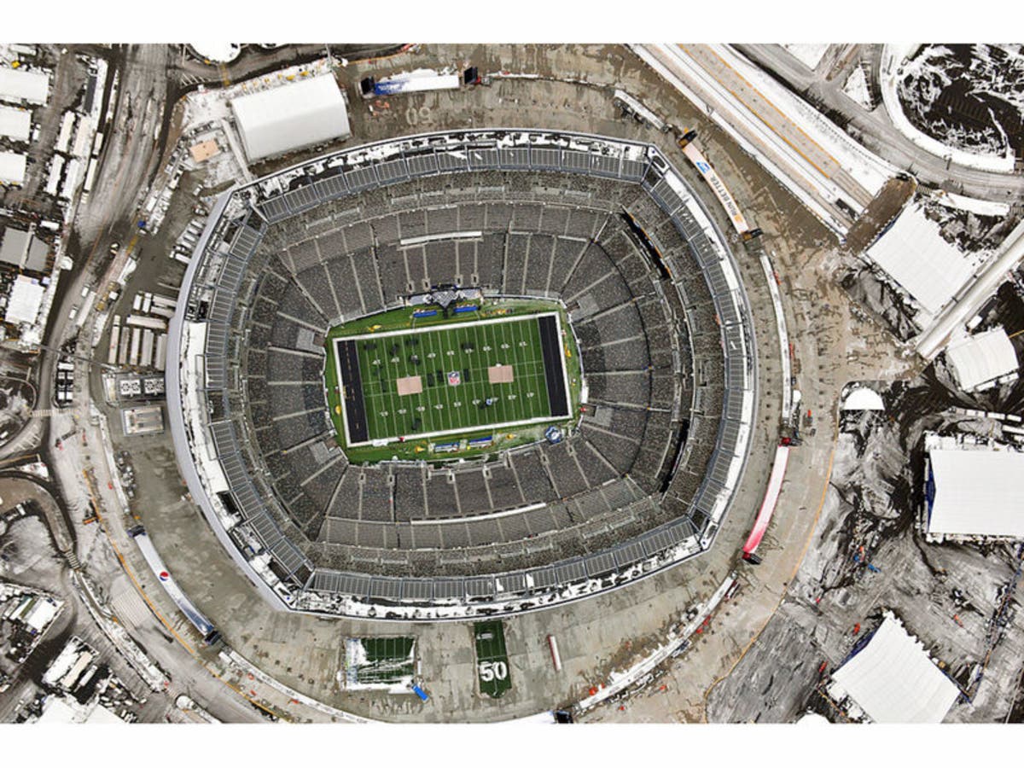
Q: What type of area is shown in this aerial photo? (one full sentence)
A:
This image shows a sports ground.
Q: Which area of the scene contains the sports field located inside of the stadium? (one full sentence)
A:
The sports field located inside of the stadium is in the center part of the image.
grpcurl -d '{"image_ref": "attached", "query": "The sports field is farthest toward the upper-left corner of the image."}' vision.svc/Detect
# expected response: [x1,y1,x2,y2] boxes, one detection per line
[324,291,583,465]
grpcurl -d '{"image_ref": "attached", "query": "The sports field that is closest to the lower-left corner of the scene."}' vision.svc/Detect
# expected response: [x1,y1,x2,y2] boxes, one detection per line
[345,638,421,693]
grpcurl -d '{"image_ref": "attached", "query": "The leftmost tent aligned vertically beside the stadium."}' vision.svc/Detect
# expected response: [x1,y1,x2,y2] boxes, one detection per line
[759,257,790,418]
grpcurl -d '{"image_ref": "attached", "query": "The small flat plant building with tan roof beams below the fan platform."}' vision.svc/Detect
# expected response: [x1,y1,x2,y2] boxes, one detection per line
[121,407,163,436]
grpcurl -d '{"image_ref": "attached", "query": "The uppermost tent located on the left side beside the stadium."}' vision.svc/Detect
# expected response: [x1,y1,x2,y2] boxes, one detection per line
[232,72,351,160]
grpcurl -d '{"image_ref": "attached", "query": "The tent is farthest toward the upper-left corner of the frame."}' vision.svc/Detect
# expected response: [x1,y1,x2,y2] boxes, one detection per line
[0,69,49,104]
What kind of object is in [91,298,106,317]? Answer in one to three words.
work vehicle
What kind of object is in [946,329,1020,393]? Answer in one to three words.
tent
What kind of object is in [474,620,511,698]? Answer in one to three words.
sports field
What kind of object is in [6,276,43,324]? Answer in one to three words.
building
